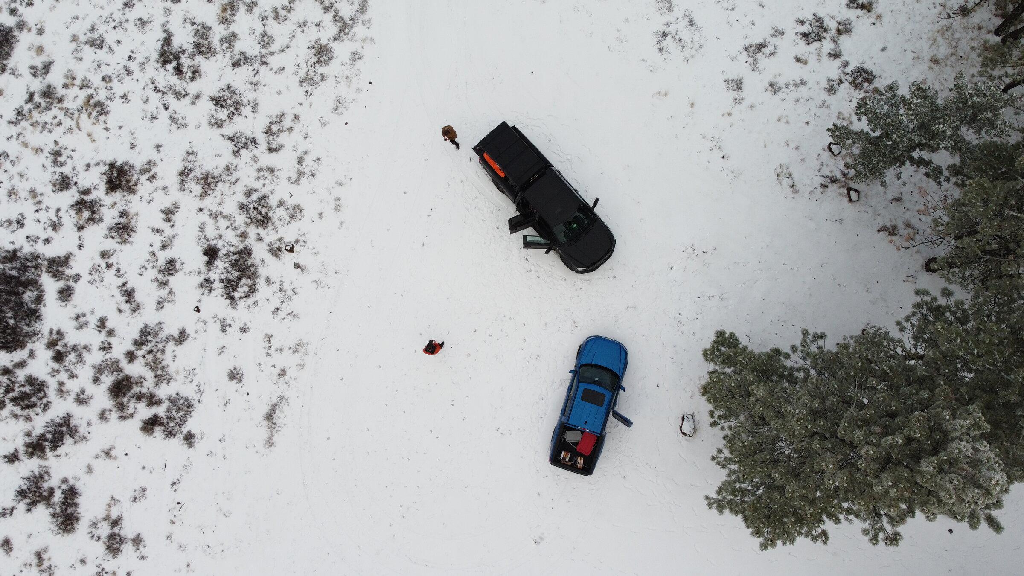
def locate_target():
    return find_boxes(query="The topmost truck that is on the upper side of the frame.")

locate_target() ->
[474,119,616,273]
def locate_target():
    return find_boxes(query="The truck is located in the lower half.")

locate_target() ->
[547,334,631,481]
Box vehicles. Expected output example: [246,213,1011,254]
[547,334,631,481]
[474,119,616,273]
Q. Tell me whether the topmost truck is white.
No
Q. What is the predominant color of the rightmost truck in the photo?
blue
